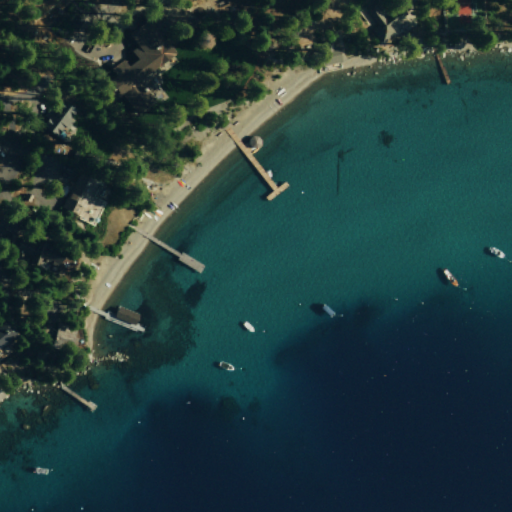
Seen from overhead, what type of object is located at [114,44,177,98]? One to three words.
house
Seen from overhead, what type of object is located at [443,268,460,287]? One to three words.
boat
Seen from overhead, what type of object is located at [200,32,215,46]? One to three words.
gazebo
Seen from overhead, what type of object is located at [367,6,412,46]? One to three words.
house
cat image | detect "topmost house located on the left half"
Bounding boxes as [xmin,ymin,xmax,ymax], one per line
[86,1,128,23]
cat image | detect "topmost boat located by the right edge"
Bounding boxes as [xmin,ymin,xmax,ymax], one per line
[488,246,505,258]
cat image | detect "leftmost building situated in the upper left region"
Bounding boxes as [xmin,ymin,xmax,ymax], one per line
[48,102,80,139]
